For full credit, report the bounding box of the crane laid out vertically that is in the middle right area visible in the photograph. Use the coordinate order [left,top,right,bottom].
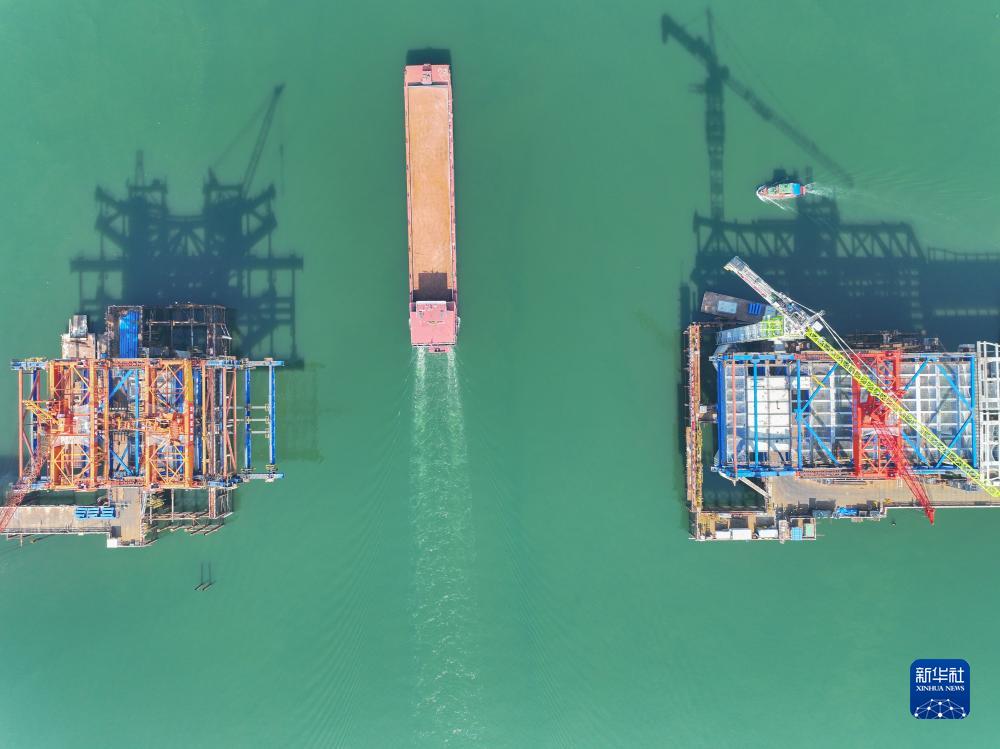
[845,352,934,521]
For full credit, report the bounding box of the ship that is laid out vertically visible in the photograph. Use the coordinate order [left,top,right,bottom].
[404,66,461,354]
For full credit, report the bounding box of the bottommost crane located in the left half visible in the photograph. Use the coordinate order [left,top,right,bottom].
[0,437,49,520]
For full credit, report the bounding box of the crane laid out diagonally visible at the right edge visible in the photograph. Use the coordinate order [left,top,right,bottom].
[706,253,1000,502]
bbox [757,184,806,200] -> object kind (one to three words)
boat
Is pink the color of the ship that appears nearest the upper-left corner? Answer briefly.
Yes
